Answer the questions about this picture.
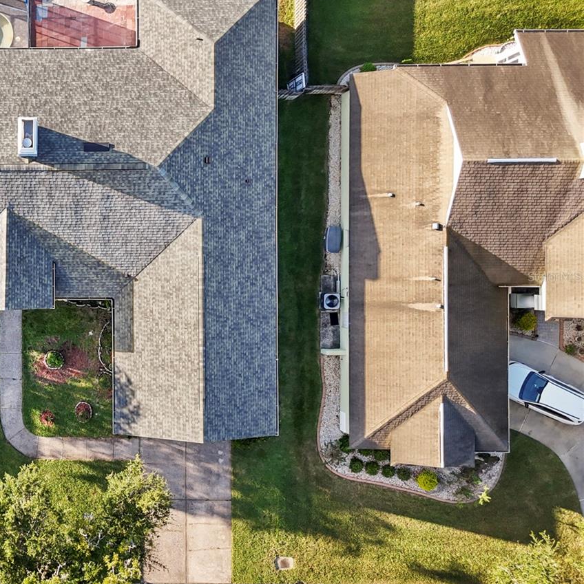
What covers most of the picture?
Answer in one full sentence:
The largest share of the image is taken up by buildings.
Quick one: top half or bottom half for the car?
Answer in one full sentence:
The bottom half of the photo is where the car is.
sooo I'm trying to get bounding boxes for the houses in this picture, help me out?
[0,0,281,445]
[329,27,584,467]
